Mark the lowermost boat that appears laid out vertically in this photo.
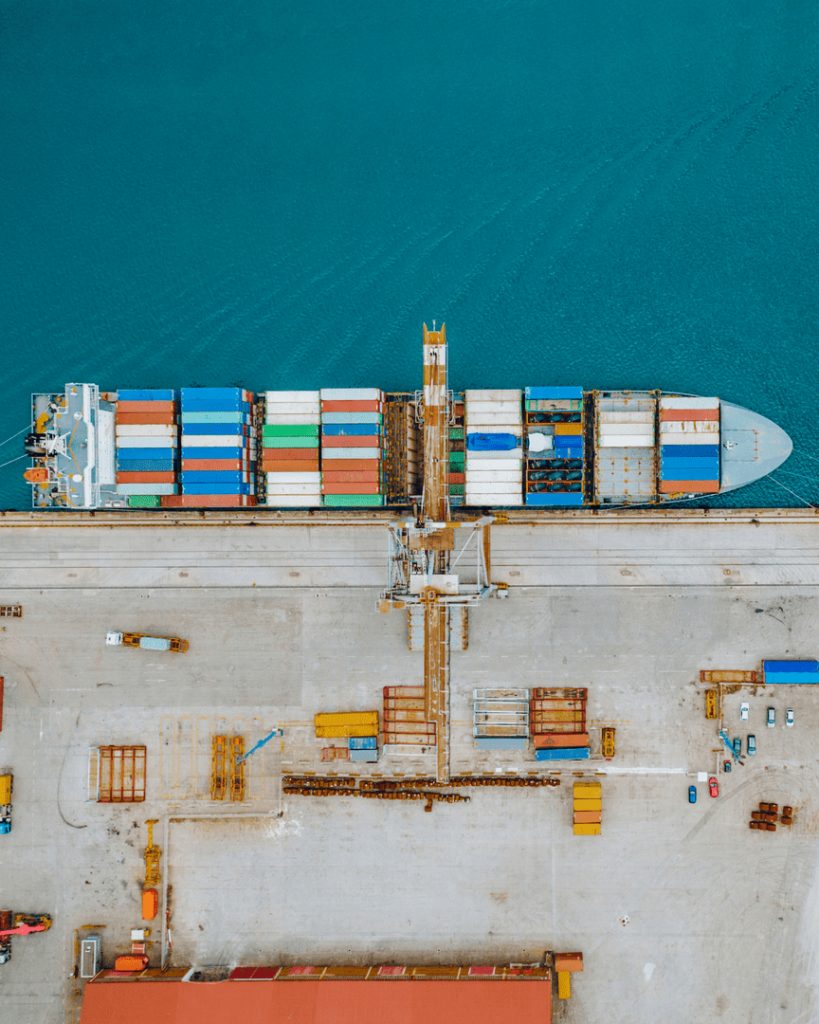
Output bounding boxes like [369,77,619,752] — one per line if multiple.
[145,884,158,919]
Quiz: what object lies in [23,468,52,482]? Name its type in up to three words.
boat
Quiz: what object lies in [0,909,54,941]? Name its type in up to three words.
work vehicle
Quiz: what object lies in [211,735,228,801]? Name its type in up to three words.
trailer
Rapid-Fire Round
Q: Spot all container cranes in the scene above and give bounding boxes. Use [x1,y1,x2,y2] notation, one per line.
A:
[375,320,508,783]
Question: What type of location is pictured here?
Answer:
port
